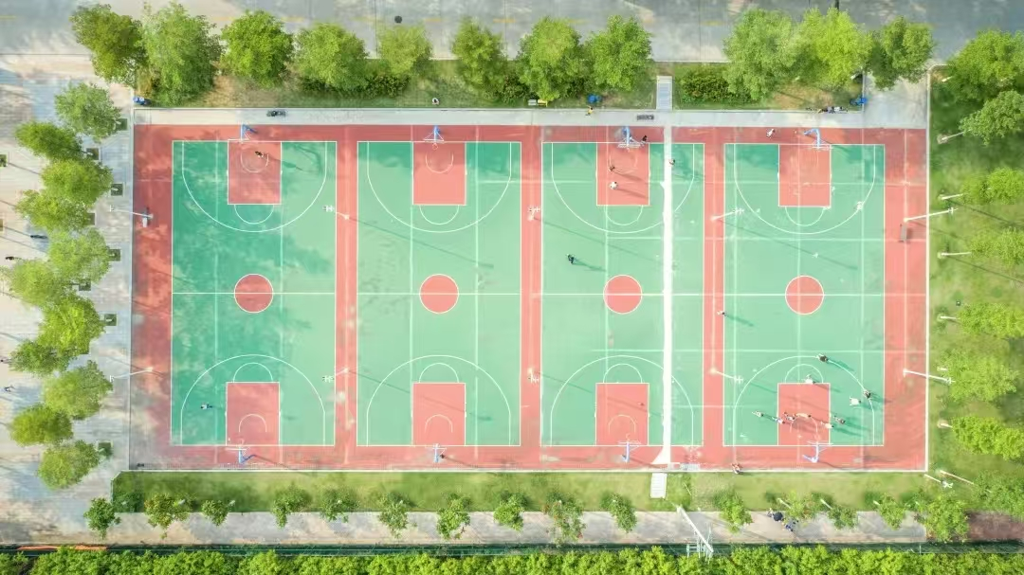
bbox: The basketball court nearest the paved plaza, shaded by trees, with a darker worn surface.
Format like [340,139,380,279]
[170,140,337,446]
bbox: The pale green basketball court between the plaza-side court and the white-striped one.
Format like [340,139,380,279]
[356,141,521,446]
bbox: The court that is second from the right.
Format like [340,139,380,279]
[541,142,704,446]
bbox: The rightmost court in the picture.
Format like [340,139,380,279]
[723,143,885,446]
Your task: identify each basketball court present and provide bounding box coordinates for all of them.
[356,141,521,446]
[541,142,704,446]
[170,140,337,446]
[723,143,885,446]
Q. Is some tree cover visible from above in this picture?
Yes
